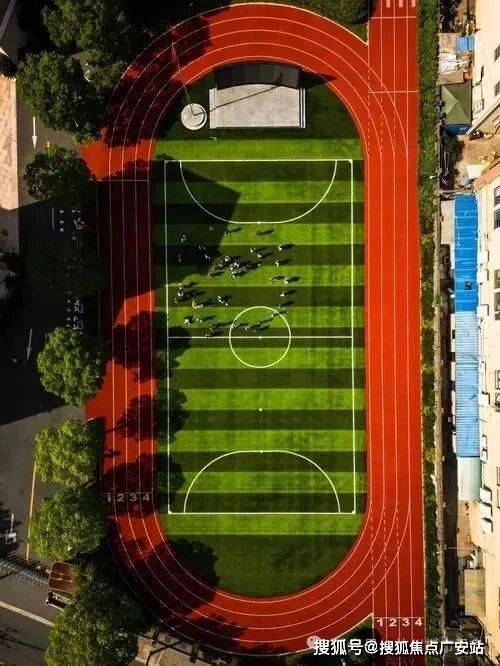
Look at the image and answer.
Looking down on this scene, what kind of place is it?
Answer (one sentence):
This looks like a sports ground.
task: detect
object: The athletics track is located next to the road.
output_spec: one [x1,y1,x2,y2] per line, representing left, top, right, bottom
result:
[81,0,426,666]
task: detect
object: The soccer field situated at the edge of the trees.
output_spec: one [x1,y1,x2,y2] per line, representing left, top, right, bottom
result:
[153,63,367,598]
